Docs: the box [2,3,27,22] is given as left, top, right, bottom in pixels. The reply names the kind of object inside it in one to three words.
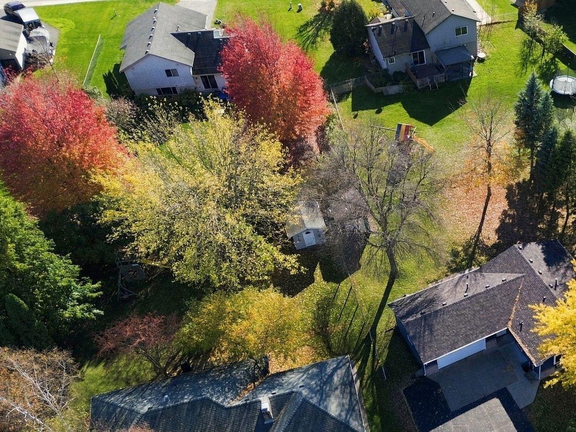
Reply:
car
